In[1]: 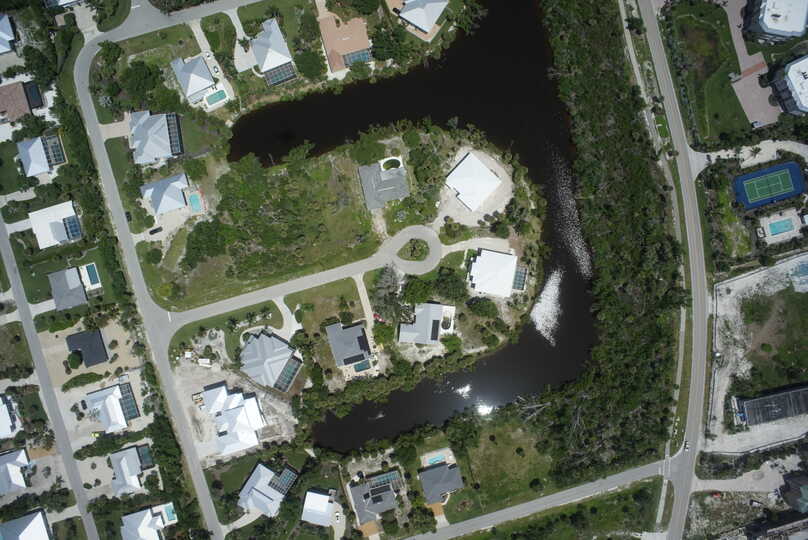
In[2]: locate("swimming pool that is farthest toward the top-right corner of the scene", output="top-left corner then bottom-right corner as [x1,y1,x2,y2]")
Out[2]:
[760,208,804,245]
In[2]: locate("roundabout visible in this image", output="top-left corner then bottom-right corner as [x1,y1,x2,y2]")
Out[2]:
[387,225,440,275]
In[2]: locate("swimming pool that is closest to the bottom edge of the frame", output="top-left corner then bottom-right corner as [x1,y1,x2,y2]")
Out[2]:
[155,502,177,527]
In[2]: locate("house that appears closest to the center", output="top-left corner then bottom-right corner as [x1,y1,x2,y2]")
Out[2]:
[399,304,442,344]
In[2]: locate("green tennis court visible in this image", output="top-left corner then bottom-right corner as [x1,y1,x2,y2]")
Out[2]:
[735,163,804,209]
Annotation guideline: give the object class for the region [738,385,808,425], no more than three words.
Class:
building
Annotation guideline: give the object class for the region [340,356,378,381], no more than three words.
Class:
swimming pool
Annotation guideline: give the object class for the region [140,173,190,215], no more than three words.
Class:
house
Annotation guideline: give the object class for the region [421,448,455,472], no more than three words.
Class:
swimming pool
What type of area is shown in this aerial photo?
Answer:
residential area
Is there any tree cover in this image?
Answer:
Yes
